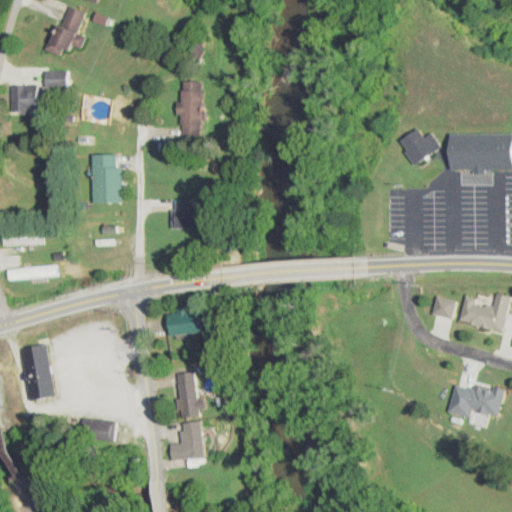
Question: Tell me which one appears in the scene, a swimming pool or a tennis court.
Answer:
swimming pool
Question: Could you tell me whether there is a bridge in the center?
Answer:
Yes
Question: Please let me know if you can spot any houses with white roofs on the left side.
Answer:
Yes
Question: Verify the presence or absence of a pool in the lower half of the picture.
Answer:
No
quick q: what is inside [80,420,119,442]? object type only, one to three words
building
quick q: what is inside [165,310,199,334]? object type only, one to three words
building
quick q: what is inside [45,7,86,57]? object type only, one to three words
house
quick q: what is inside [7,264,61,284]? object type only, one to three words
house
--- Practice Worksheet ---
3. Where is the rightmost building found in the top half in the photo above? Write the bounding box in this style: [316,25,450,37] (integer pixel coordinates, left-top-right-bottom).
[447,133,512,176]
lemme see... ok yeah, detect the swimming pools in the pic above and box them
[82,95,112,124]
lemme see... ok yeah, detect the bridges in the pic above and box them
[220,256,365,287]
